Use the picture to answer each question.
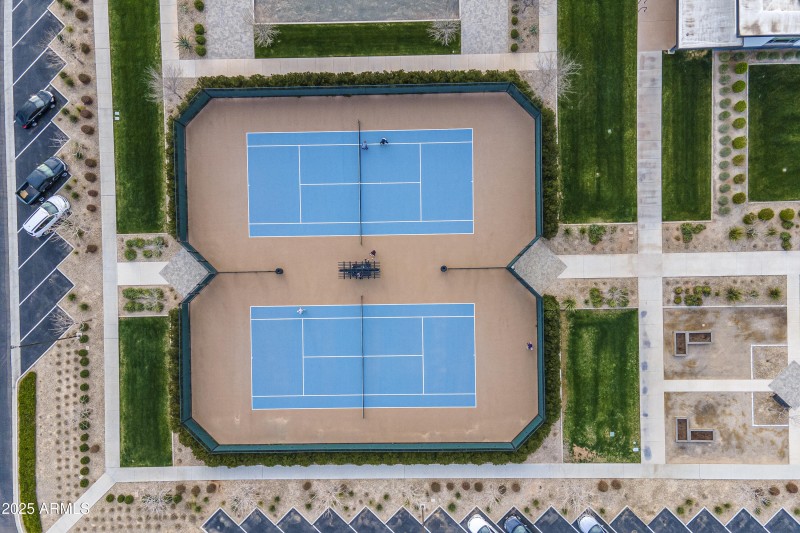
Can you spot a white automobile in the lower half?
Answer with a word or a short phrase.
Yes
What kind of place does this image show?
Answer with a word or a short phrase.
sports ground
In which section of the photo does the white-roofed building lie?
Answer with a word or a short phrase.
top right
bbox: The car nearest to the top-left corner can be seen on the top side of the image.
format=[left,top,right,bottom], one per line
[14,88,56,128]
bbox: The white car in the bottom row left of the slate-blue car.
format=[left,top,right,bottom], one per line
[468,513,501,533]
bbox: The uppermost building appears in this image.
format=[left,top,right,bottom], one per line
[669,0,800,54]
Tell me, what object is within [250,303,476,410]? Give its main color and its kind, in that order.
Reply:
blue tennis court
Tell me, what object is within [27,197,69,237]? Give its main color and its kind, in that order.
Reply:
white car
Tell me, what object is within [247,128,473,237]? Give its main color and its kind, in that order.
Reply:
blue tennis court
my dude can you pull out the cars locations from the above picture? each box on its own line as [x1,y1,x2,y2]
[27,197,69,237]
[581,513,613,533]
[505,515,534,533]
[14,88,56,128]
[468,513,501,533]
